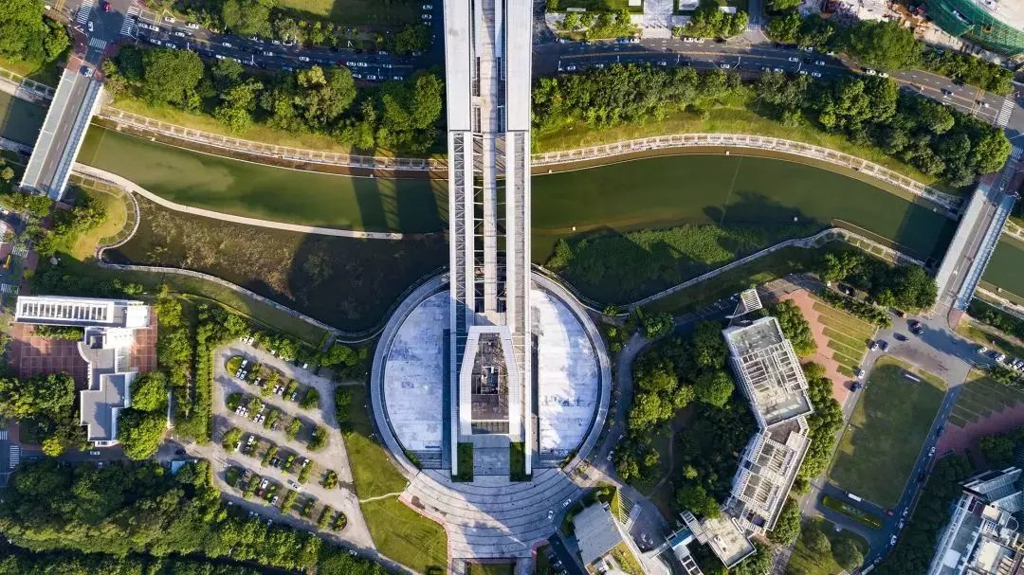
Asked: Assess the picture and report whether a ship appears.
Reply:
No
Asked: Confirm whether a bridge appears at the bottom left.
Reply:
No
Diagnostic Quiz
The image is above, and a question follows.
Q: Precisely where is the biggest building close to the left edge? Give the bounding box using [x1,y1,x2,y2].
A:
[15,296,163,446]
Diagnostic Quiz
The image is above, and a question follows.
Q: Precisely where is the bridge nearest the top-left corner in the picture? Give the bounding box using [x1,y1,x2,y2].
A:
[15,66,103,198]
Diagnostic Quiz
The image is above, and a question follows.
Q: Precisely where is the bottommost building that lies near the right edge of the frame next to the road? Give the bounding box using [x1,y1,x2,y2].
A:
[901,468,1024,575]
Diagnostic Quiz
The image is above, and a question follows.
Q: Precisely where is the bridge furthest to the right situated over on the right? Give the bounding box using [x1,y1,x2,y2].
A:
[932,180,1019,305]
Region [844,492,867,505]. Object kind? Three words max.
vehicle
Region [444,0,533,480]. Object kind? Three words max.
building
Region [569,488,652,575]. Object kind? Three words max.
building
